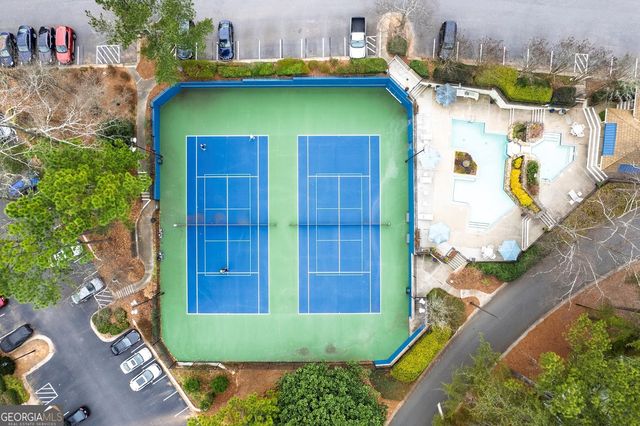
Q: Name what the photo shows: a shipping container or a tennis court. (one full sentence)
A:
Visible in the photo is a tennis court.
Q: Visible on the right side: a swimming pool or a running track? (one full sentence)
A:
It is a swimming pool that can be seen on the right side.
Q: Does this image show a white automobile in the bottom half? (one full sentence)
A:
Yes, looking in the bottom half, one can make out a white automobile.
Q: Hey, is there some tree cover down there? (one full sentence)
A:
Yes, there's tree cover in this view.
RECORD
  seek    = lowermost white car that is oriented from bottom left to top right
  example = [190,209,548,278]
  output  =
[128,362,166,394]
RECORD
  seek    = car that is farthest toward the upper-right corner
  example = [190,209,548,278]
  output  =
[437,21,456,61]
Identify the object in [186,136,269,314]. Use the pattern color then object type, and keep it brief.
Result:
blue tennis court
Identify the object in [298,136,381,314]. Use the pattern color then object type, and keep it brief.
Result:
blue tennis court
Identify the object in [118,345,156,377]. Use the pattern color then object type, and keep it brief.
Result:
white car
